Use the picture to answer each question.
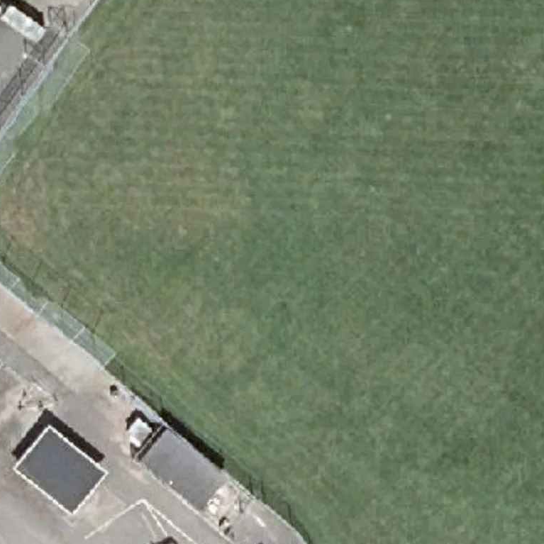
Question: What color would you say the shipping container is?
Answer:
white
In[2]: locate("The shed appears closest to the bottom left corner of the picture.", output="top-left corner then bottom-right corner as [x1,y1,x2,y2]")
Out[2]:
[14,424,107,515]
